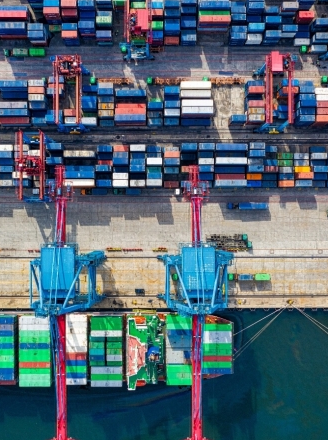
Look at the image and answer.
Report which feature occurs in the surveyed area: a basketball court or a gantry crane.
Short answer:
gantry crane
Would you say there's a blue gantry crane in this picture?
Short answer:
Yes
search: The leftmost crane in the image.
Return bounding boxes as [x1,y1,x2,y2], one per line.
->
[16,131,60,203]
